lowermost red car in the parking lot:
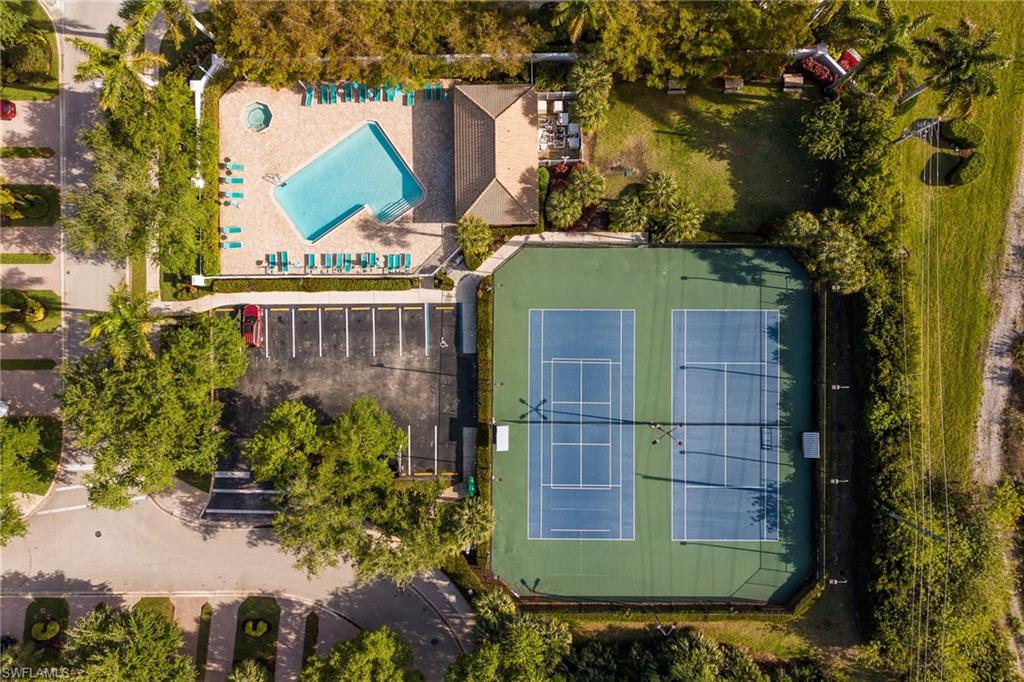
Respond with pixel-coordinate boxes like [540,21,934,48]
[239,304,264,346]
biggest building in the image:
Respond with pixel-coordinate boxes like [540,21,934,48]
[454,84,539,225]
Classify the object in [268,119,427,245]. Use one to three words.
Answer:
swimming pool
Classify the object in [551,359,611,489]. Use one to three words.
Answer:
sports court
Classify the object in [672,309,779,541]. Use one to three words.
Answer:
tennis court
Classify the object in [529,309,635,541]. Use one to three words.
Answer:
tennis court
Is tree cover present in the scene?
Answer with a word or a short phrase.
Yes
